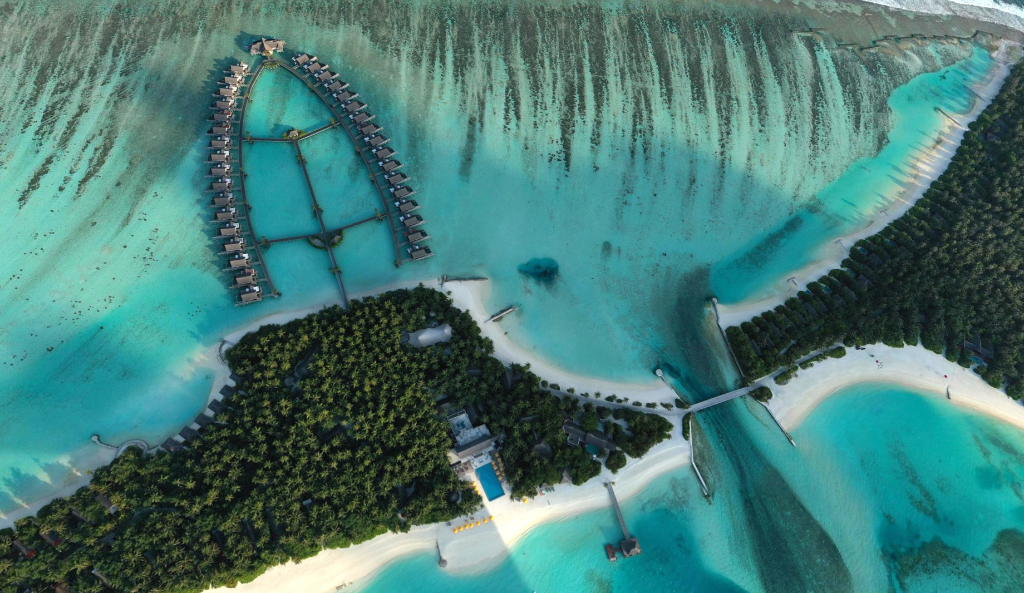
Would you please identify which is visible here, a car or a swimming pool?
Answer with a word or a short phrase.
swimming pool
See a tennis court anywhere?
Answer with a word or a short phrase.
No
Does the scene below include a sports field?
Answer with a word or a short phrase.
No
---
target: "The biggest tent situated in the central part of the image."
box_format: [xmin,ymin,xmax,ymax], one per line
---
[408,323,452,348]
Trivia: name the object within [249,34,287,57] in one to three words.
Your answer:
building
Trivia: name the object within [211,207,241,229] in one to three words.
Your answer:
house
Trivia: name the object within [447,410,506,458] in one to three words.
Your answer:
building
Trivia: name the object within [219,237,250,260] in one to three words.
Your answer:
house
